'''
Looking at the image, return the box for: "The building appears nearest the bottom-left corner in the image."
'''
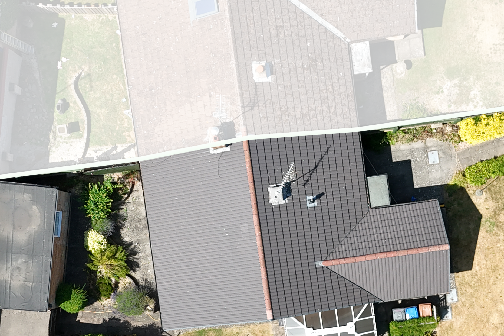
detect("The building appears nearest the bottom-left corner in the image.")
[0,179,69,311]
